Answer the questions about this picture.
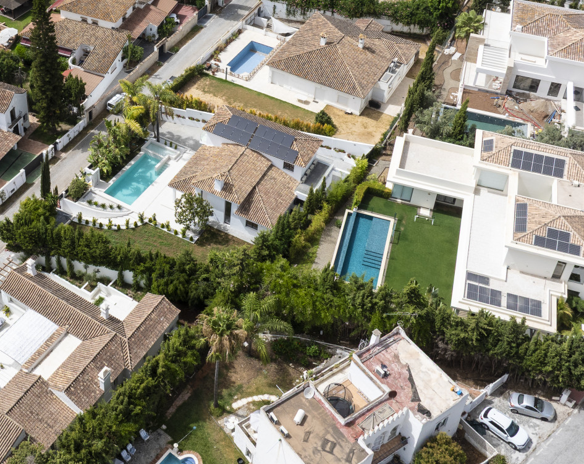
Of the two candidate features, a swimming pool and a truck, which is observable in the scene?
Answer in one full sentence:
The one in the frame is a swimming pool.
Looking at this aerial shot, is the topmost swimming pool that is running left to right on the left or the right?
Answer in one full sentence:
The topmost swimming pool that is running left to right is on the right side of the image.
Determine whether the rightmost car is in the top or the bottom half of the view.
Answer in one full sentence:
The rightmost car sits in the bottom half of the picture.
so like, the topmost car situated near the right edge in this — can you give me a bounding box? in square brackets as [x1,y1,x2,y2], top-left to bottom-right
[508,390,557,426]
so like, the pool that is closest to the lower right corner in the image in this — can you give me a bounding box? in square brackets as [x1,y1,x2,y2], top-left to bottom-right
[326,205,397,293]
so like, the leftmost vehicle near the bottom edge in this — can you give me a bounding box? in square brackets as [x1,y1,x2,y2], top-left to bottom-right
[477,406,531,450]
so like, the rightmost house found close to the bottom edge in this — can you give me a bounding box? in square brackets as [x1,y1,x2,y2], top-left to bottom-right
[233,322,468,464]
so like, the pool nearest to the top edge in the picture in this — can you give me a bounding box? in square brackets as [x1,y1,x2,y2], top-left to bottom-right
[225,38,277,75]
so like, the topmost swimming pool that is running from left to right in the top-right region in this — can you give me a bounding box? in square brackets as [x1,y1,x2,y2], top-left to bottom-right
[425,99,532,139]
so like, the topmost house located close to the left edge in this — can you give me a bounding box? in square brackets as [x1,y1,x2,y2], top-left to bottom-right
[20,0,177,100]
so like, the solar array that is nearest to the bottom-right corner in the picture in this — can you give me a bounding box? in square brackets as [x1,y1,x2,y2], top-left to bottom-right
[508,292,543,317]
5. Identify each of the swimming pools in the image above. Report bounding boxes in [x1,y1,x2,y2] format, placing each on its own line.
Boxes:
[98,148,174,208]
[152,444,200,464]
[225,38,277,75]
[326,205,397,293]
[140,137,184,160]
[425,99,532,139]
